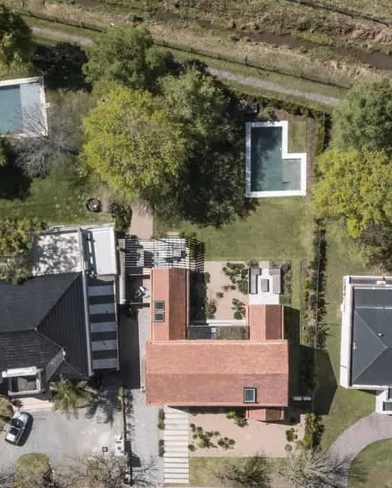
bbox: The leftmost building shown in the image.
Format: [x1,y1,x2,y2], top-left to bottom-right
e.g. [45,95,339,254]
[0,226,124,396]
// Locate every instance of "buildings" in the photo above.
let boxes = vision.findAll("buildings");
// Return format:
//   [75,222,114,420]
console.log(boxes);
[146,268,289,419]
[339,277,392,414]
[0,226,124,396]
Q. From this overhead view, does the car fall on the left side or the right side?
left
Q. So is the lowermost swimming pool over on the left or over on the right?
right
